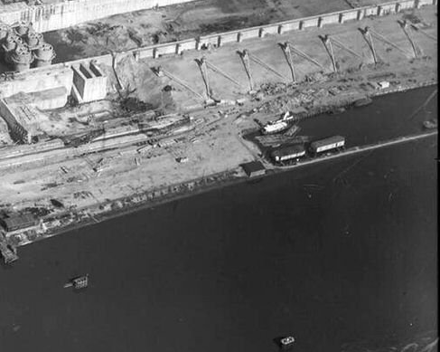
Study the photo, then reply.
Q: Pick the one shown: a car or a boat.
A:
boat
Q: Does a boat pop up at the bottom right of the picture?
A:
No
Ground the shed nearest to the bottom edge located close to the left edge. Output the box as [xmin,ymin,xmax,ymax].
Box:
[0,205,42,235]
